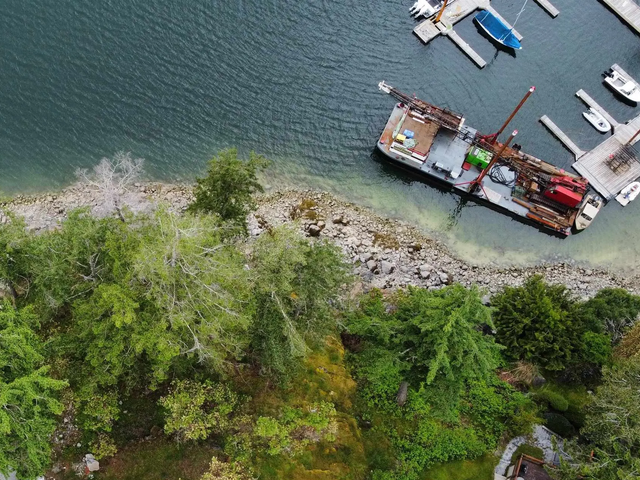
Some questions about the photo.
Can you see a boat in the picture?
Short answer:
Yes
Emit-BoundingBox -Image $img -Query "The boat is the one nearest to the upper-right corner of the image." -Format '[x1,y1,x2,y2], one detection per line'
[600,66,640,104]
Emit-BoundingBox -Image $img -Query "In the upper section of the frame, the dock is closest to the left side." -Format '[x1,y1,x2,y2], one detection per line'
[413,18,442,46]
